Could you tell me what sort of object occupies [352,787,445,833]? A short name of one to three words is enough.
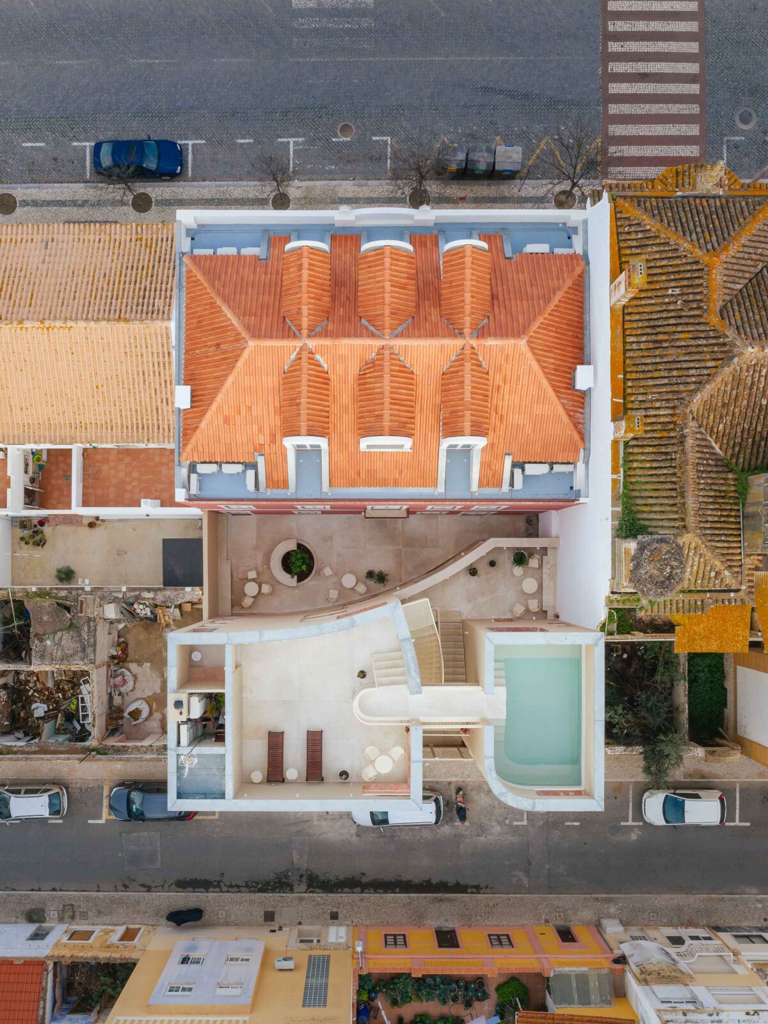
vehicle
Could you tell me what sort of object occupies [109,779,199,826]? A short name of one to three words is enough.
car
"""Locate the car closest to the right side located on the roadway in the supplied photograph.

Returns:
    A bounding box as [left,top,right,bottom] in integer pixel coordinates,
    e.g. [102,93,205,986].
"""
[639,785,728,832]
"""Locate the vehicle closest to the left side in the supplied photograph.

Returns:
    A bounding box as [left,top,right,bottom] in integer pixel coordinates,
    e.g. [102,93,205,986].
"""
[0,780,70,820]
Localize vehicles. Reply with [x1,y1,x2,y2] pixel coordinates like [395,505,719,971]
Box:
[94,134,185,183]
[454,786,470,824]
[639,785,728,832]
[352,787,445,833]
[109,779,199,826]
[0,780,70,820]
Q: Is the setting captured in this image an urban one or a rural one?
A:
urban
